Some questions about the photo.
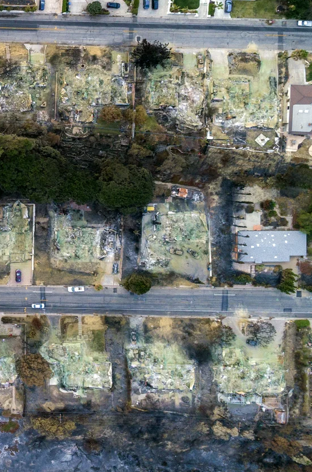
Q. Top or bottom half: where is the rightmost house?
top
